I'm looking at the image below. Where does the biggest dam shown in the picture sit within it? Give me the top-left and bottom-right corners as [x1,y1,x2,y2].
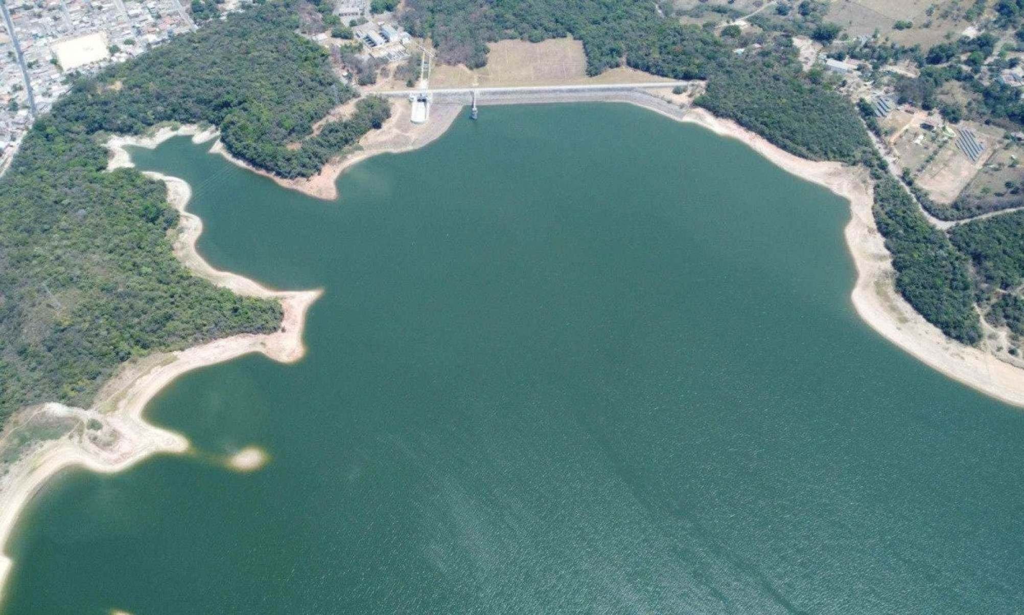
[371,36,702,108]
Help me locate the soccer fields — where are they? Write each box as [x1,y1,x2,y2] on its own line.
[58,34,109,71]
